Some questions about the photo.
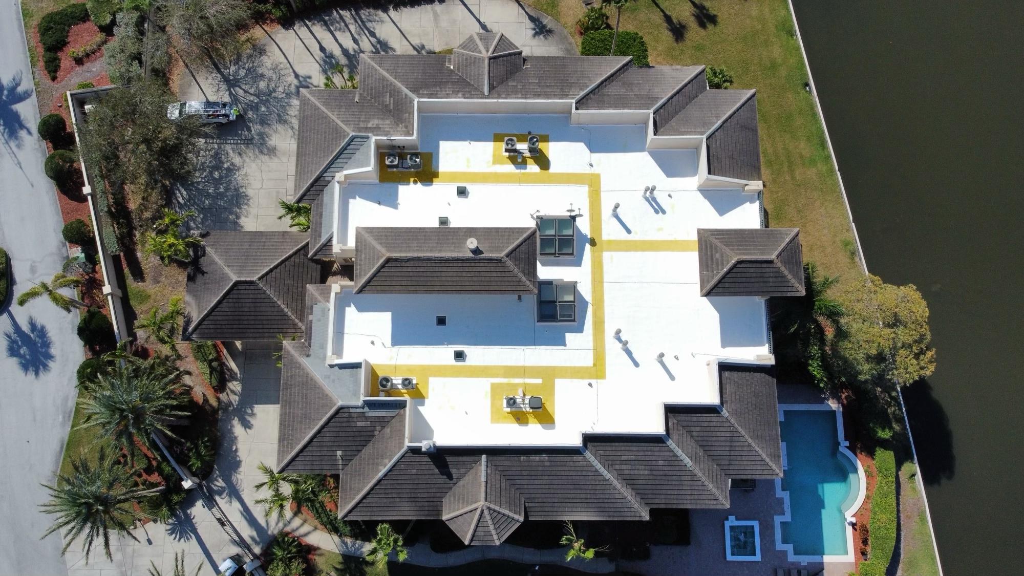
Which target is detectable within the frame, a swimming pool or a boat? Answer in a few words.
swimming pool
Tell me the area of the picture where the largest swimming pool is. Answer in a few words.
bottom right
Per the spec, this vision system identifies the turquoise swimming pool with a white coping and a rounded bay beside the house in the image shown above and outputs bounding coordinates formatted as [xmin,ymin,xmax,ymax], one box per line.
[774,404,867,566]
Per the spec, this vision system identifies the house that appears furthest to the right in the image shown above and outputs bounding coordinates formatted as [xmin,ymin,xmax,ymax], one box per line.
[274,30,806,546]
